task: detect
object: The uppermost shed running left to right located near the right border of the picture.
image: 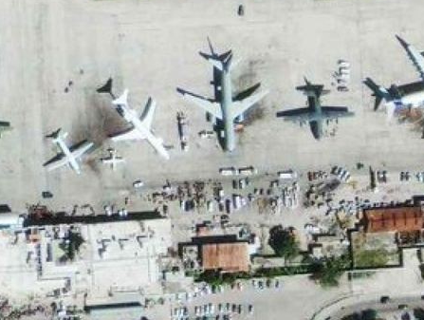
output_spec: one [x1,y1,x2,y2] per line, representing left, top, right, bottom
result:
[361,206,424,233]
